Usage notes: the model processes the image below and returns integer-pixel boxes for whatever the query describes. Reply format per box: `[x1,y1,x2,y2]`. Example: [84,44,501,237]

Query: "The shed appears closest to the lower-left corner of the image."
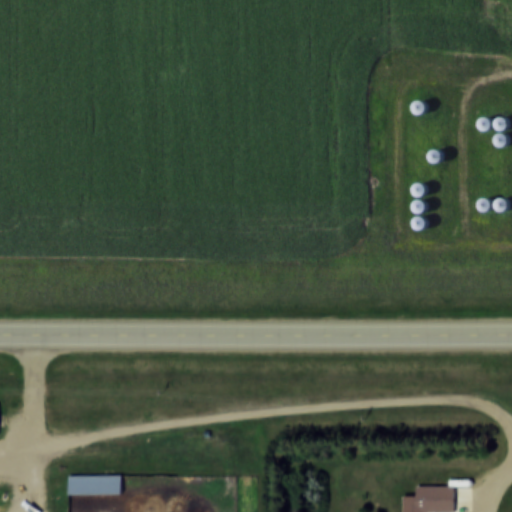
[68,476,123,496]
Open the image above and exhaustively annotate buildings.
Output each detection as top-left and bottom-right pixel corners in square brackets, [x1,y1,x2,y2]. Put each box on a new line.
[68,476,123,496]
[403,487,455,512]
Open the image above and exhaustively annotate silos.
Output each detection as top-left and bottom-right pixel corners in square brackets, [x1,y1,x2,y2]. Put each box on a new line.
[476,197,494,212]
[410,182,430,198]
[427,148,446,164]
[410,198,430,214]
[493,116,512,132]
[476,116,495,132]
[492,132,512,148]
[410,216,430,231]
[410,100,430,116]
[493,197,512,212]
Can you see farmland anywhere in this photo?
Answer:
Yes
